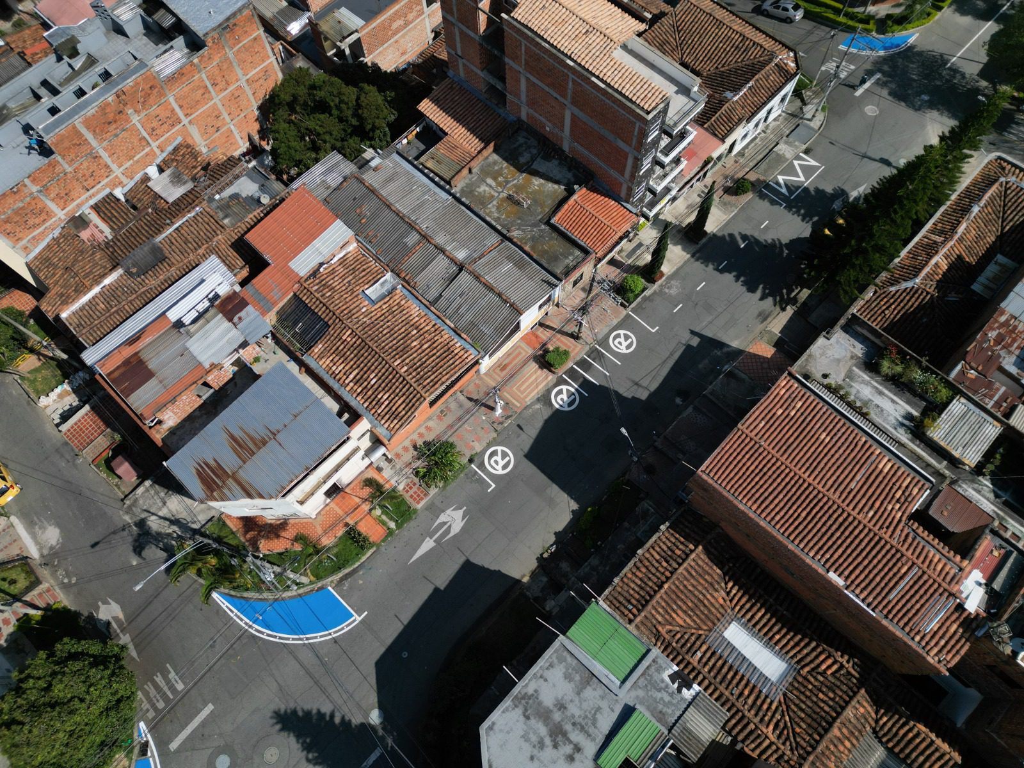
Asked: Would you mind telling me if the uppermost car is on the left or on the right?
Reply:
right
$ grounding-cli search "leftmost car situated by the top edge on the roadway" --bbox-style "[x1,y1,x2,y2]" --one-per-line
[761,0,808,23]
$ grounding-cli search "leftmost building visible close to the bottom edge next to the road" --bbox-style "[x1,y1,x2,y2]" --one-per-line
[478,583,736,768]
